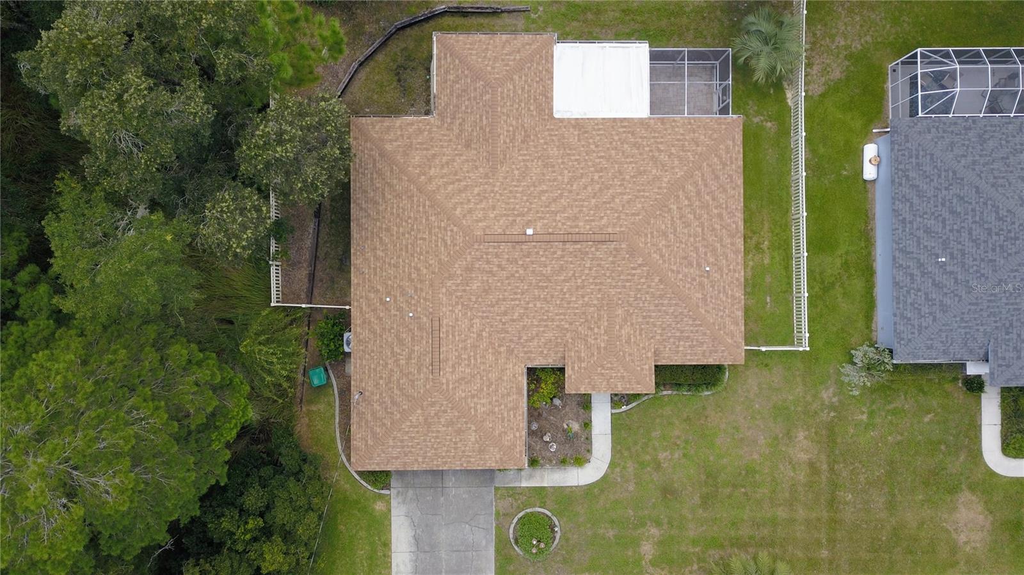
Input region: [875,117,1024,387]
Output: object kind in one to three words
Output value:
house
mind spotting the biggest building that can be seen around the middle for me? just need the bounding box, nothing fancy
[351,30,744,471]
